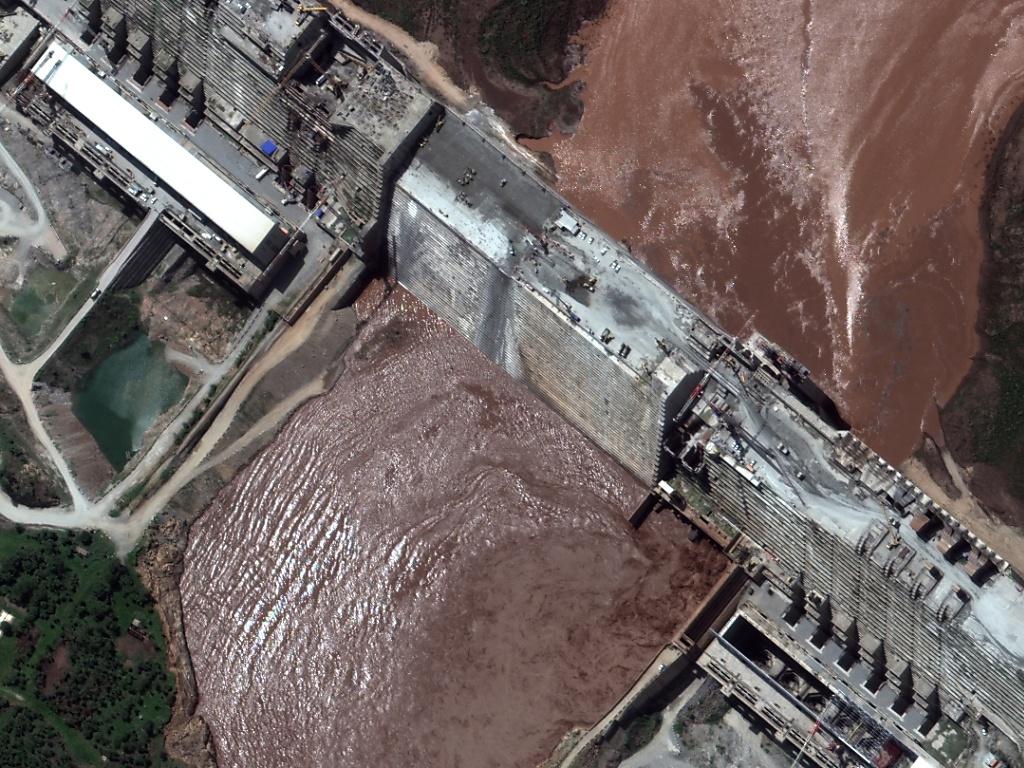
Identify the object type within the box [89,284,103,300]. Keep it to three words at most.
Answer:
vehicle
